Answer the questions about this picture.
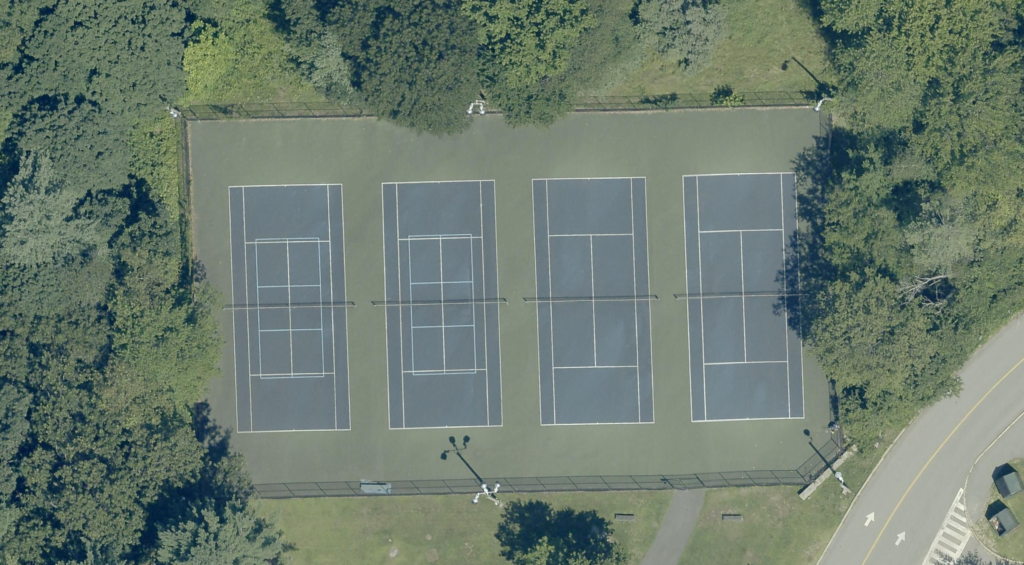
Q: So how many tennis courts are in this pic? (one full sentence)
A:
The picture shows 4 tennis courts.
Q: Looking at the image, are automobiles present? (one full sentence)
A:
No, the frame has no automobile in it.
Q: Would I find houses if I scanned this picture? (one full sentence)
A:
No, there appears to be no house in this shot.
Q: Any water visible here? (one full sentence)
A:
No, the picture contains no water.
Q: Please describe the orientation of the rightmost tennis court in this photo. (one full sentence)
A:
From this overhead view, the rightmost tennis court appears to run from top to bottom.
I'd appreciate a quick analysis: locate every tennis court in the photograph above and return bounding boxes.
[532,177,655,425]
[229,184,351,433]
[682,172,805,422]
[382,180,503,429]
